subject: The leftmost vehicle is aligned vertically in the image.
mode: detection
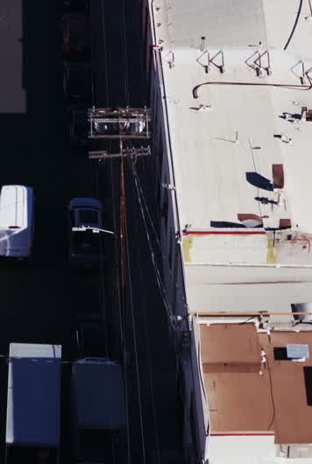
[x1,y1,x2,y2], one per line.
[0,190,32,264]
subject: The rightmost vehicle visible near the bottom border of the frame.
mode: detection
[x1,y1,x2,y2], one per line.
[68,358,128,464]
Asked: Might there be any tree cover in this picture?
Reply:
No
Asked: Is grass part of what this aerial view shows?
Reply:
No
